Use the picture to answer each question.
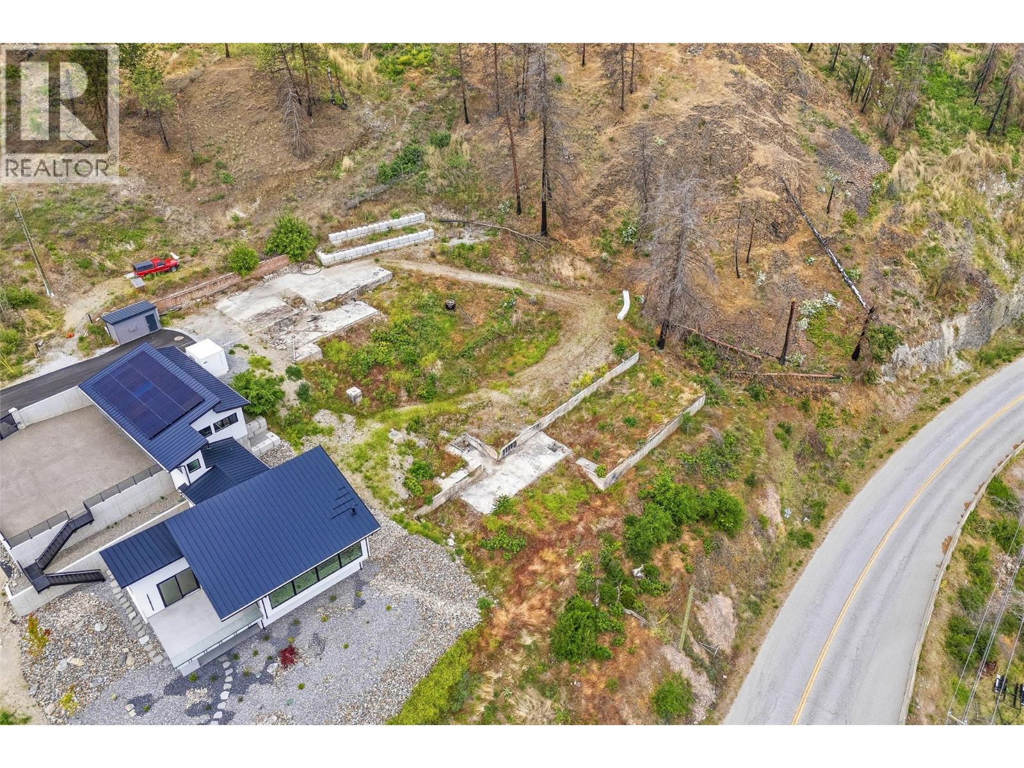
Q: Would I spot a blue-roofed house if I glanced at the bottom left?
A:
Yes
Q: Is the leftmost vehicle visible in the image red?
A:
Yes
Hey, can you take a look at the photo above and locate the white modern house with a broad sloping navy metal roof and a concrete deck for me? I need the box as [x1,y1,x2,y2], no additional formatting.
[97,439,381,678]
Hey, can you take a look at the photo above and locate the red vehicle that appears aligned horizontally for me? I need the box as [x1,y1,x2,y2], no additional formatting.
[129,255,179,275]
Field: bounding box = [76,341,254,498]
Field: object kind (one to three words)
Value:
building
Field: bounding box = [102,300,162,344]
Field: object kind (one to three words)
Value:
shed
